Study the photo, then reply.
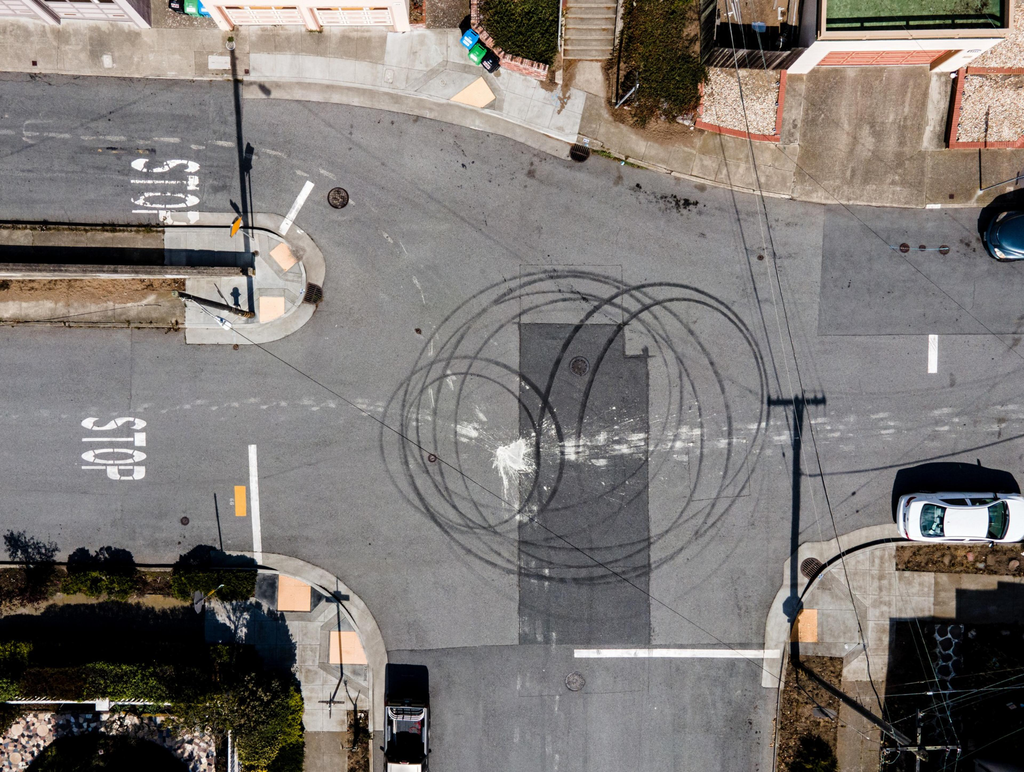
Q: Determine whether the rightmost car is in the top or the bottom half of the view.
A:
top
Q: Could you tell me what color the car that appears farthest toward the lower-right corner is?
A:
white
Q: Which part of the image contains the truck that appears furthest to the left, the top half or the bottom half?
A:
bottom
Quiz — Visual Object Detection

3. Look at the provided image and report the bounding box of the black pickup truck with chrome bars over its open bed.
[378,696,435,772]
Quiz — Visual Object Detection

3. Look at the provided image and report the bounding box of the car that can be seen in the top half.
[982,213,1024,265]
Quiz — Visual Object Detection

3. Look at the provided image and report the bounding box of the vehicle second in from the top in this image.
[894,486,1023,546]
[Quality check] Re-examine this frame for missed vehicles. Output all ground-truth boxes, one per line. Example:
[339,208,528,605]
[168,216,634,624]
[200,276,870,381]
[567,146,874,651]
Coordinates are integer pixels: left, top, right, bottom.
[982,213,1024,265]
[894,486,1023,546]
[378,696,435,772]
